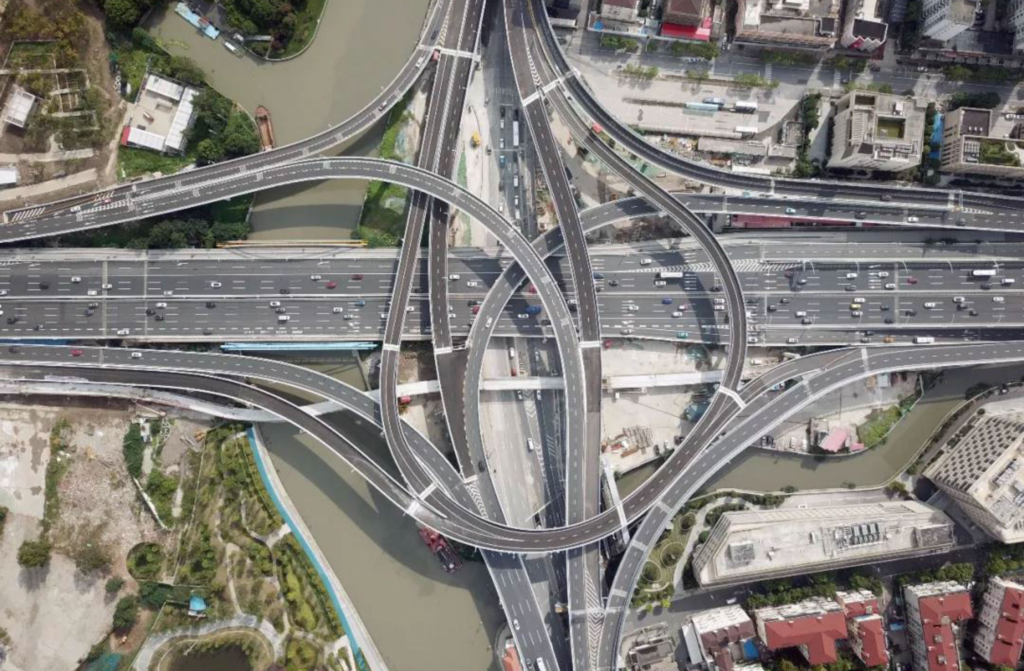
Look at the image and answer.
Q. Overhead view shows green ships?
No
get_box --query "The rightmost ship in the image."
[420,527,460,576]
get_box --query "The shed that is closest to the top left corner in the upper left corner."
[4,89,39,128]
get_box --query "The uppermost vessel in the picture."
[175,0,221,40]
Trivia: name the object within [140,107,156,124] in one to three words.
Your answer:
vehicle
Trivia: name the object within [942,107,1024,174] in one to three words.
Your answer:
building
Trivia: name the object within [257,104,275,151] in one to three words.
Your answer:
ship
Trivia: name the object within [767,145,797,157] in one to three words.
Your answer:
shed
